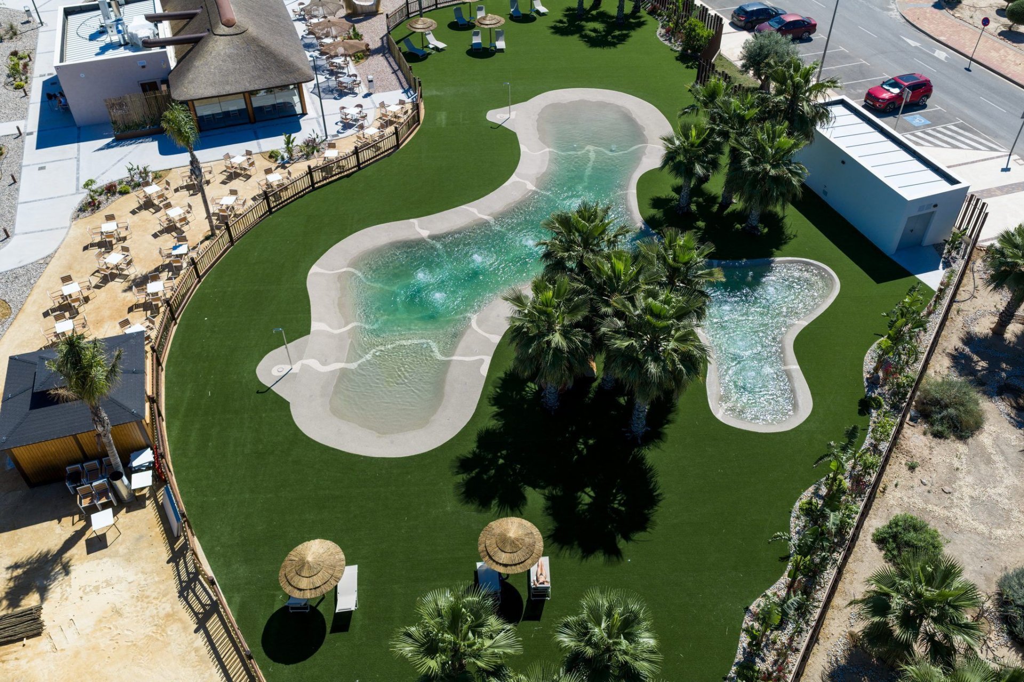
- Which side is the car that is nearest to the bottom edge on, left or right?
right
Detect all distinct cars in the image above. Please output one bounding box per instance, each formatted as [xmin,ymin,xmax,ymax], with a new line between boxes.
[754,12,819,41]
[729,1,789,30]
[865,67,940,108]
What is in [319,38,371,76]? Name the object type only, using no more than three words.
umbrella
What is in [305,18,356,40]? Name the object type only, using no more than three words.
umbrella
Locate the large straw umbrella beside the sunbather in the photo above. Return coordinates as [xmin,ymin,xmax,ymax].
[477,520,544,578]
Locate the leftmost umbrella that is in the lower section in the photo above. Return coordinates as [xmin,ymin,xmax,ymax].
[278,542,347,602]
